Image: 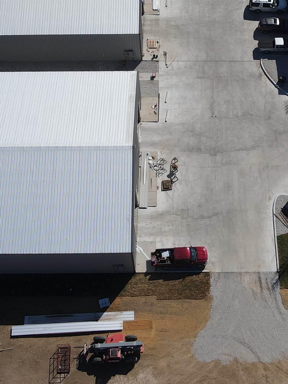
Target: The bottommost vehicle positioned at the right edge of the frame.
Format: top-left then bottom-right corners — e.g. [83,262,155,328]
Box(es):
[256,38,288,56]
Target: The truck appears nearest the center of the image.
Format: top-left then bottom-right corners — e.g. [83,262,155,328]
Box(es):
[150,243,210,270]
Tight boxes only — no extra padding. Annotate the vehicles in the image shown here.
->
[256,17,288,38]
[247,0,288,15]
[256,38,288,56]
[72,334,144,368]
[150,243,210,270]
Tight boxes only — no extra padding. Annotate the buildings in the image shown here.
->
[0,0,144,62]
[0,69,141,274]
